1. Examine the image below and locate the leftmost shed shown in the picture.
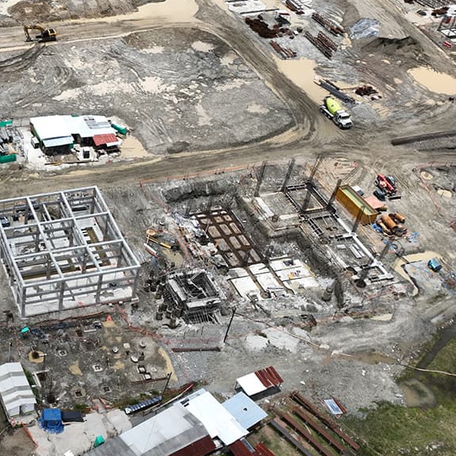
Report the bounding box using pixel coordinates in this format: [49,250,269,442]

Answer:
[0,360,43,424]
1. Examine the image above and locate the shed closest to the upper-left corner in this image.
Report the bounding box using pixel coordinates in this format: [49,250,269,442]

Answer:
[30,115,122,158]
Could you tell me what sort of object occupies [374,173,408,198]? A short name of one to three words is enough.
work vehicle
